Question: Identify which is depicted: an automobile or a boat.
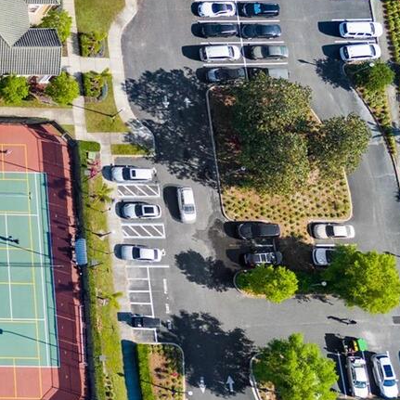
automobile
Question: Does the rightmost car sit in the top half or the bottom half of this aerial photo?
bottom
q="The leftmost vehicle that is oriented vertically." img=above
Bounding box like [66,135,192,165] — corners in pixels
[174,184,199,226]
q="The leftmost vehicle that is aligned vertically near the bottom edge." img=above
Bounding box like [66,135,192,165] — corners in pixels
[343,354,369,399]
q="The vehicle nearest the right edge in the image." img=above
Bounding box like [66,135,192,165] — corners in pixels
[369,354,398,397]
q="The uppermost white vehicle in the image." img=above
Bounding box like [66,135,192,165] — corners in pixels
[198,1,234,17]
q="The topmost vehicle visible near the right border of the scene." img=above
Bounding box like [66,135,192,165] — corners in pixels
[339,20,380,38]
